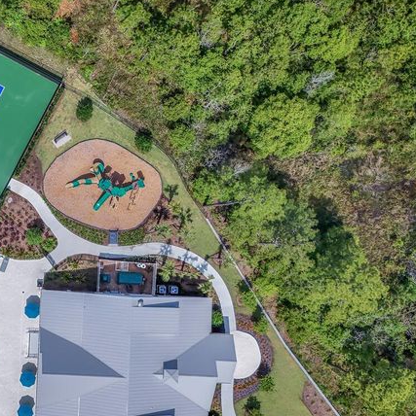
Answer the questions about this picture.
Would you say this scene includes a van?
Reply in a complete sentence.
No, no van is visible in the view.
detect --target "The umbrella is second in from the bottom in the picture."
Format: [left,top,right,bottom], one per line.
[19,368,37,385]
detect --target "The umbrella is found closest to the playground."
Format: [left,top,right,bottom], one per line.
[24,297,40,316]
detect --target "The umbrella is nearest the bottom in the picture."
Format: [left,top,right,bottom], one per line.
[17,403,35,416]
